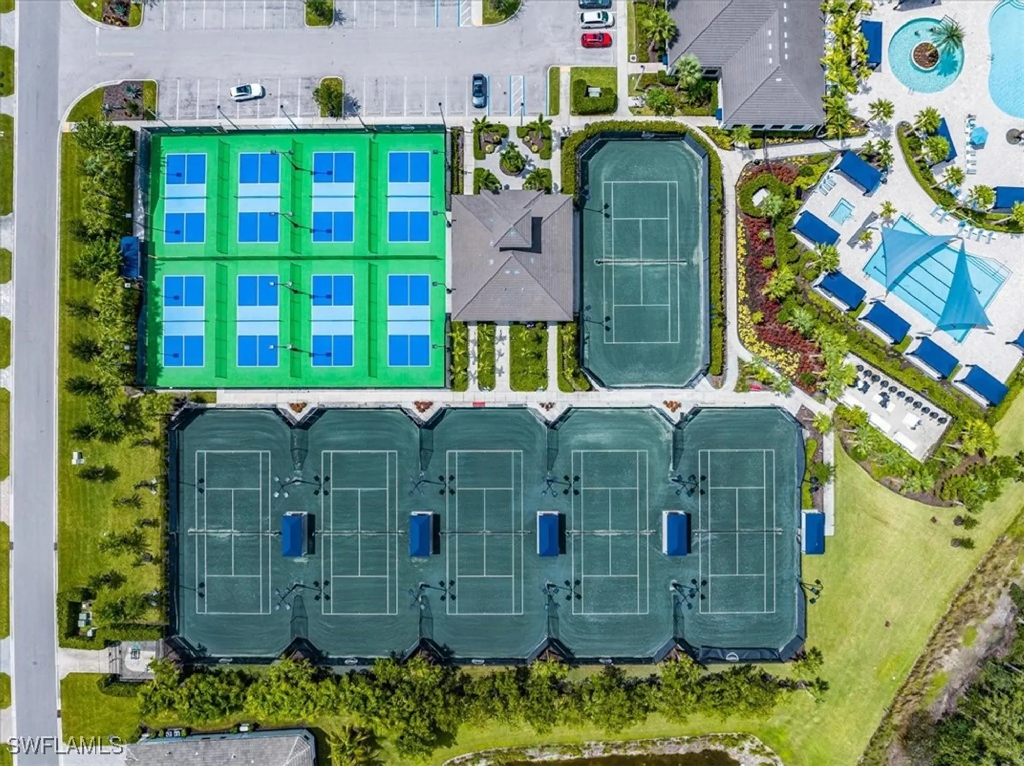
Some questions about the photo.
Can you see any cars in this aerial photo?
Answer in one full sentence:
Yes, the photo shows a car.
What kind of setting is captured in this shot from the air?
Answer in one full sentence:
It's a sports ground.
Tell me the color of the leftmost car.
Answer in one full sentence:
In this view, the leftmost car is white.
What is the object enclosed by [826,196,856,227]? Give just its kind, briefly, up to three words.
swimming pool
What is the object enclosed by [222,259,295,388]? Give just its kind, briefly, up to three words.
sports court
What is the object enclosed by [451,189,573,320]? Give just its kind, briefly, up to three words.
building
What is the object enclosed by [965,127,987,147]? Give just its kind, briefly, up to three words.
umbrella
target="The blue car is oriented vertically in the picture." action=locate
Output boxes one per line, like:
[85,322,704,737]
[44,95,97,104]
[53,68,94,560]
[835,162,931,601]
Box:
[471,74,487,109]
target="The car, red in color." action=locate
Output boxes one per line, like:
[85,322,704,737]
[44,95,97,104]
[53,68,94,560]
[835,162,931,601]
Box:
[581,31,612,48]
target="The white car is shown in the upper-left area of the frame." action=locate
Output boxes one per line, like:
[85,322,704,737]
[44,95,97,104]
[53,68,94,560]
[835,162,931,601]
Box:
[230,82,264,102]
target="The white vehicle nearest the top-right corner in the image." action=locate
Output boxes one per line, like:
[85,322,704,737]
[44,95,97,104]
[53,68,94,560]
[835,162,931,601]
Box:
[580,10,614,29]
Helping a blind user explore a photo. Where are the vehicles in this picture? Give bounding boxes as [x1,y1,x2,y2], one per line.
[580,10,614,29]
[578,0,612,10]
[581,31,612,48]
[471,74,487,109]
[230,82,264,102]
